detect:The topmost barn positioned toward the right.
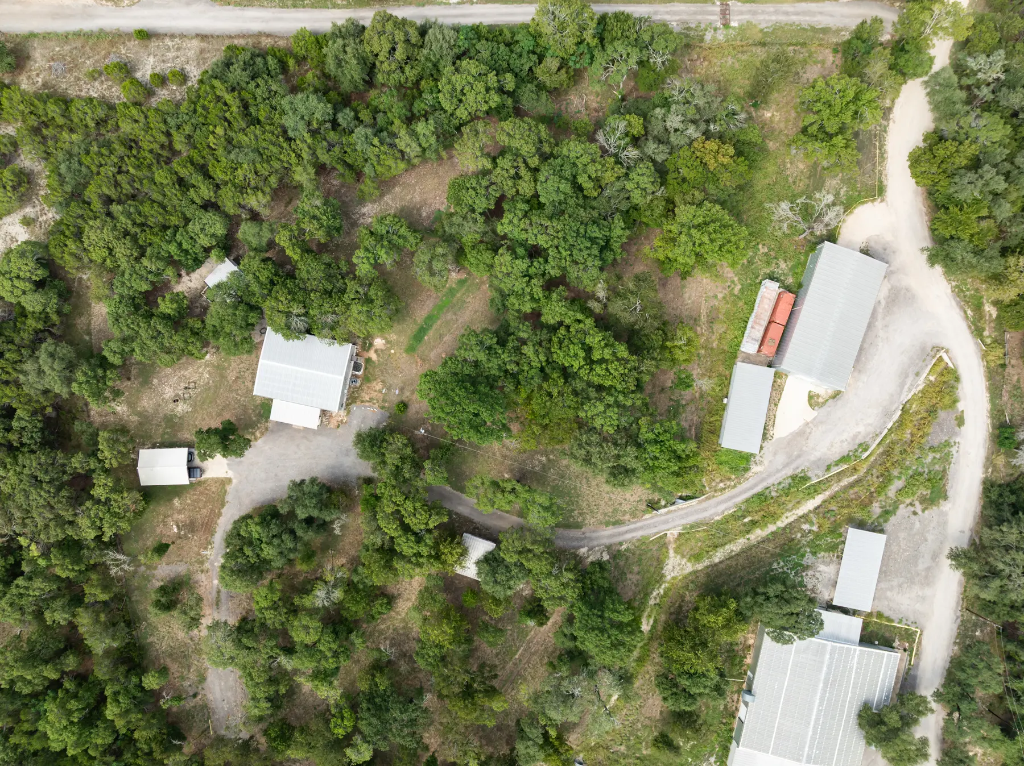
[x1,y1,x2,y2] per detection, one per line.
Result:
[771,242,888,390]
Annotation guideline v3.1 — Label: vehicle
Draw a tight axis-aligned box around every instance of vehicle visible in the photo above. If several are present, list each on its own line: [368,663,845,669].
[187,452,193,463]
[187,468,201,479]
